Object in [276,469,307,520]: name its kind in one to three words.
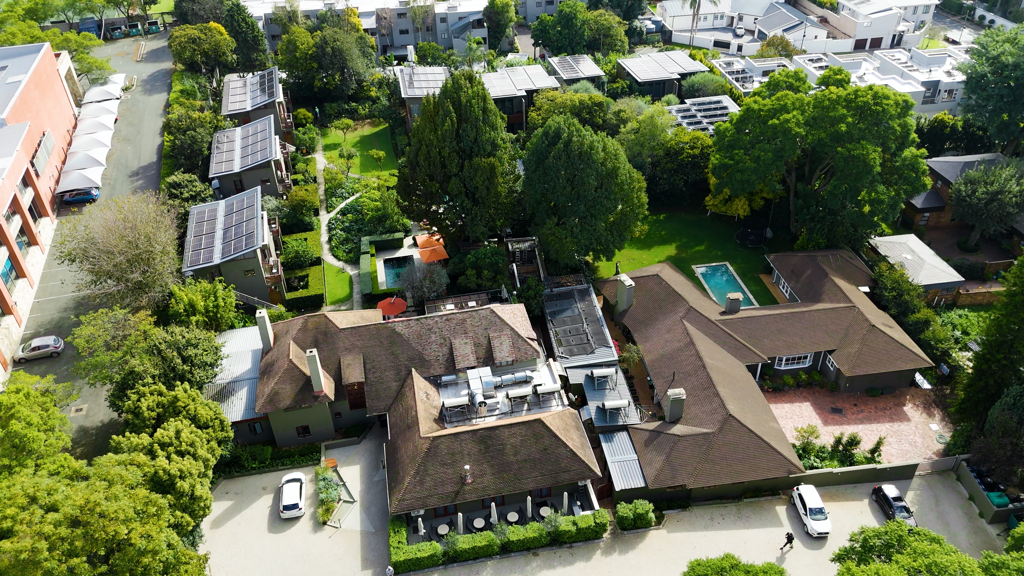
car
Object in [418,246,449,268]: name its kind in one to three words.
umbrella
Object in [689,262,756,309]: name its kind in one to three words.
swimming pool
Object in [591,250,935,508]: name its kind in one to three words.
house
